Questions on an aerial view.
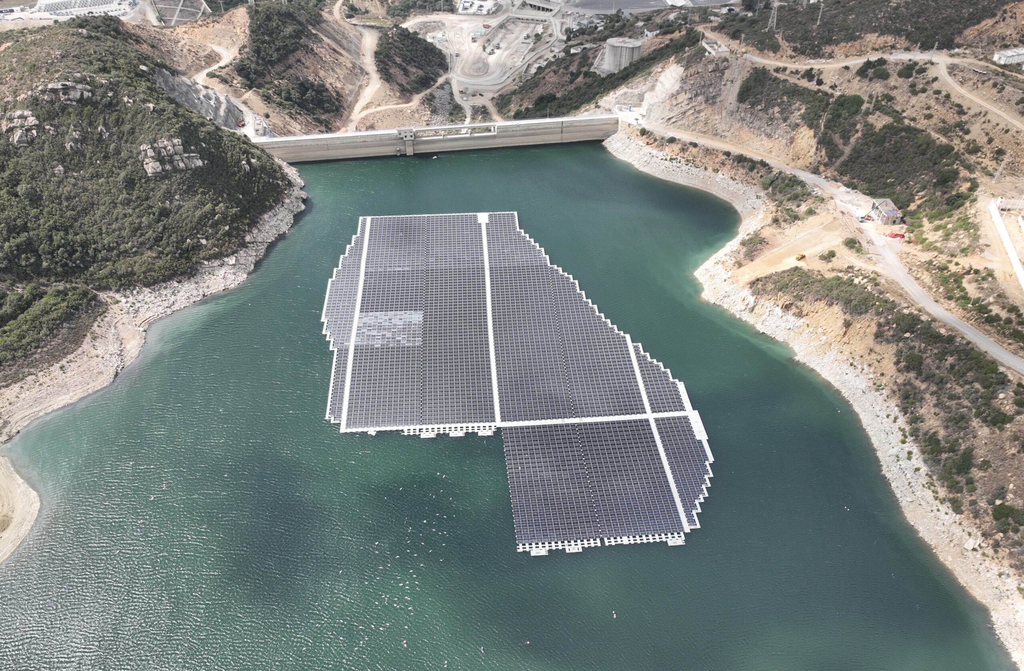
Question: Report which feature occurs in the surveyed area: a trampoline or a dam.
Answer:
dam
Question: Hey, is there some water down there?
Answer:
Yes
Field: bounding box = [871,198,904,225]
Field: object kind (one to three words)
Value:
building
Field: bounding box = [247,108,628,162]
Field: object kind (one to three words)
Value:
dam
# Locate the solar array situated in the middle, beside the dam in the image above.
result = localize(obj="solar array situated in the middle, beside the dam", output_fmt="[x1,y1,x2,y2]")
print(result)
[320,211,713,555]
